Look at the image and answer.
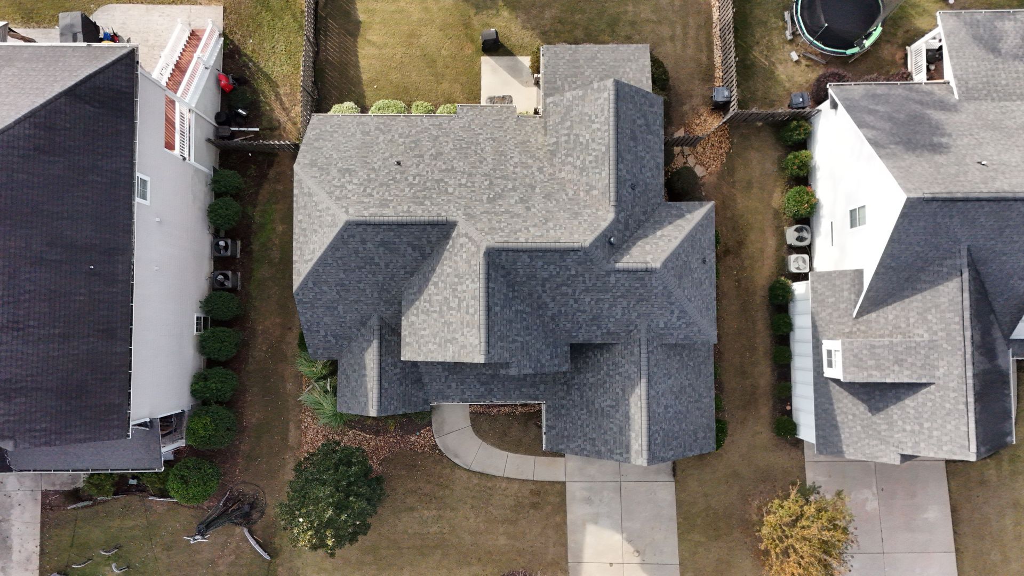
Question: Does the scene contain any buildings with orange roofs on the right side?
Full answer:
No, I see no building with an orange roof on the right side.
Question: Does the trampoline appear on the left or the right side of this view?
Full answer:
The trampoline sits on the right side.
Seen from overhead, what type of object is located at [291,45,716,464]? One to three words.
house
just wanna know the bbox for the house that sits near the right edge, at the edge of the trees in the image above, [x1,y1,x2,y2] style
[791,11,1024,465]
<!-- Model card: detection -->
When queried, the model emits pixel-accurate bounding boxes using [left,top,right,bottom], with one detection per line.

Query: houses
[291,45,716,464]
[0,44,220,475]
[791,11,1024,465]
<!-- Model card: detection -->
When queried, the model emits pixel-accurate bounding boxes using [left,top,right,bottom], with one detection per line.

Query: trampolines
[790,0,907,64]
